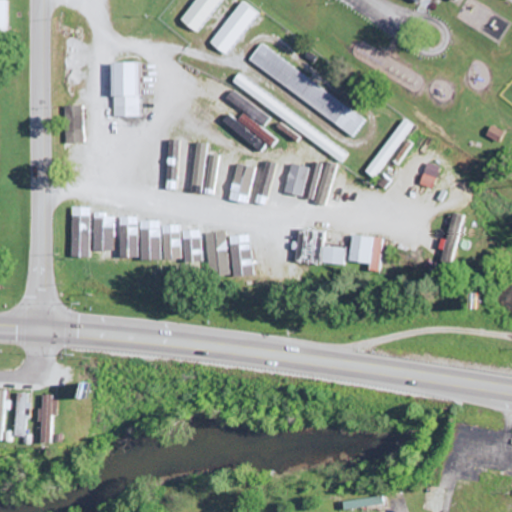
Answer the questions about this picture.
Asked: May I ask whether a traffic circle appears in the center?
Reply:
No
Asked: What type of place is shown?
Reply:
residential area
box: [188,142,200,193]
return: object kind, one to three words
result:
house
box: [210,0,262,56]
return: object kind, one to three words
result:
barn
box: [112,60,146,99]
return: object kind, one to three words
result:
building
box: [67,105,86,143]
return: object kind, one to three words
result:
shed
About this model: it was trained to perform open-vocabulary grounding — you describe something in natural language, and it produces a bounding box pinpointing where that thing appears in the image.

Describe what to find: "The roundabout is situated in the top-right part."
[404,14,451,58]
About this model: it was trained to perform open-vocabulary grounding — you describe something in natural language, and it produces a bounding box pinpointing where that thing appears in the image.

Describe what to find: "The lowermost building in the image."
[342,493,386,510]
